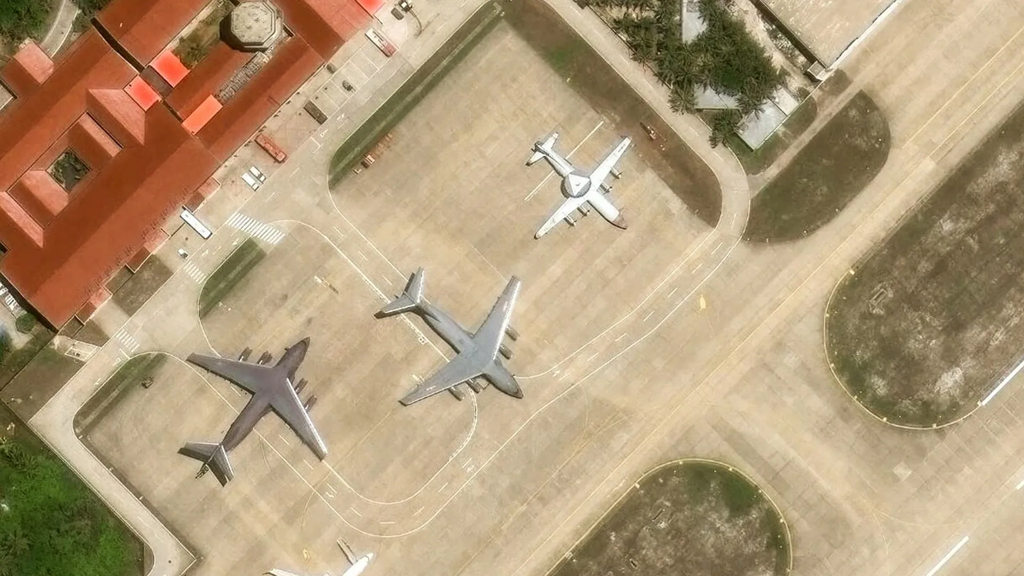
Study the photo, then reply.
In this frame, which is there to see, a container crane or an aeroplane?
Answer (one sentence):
Looking from above, you can make out an aeroplane.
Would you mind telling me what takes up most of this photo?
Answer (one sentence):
The scene is dominated by paved ground.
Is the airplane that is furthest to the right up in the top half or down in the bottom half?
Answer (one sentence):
Seen from above, the airplane that is furthest to the right lies in the top half of the view.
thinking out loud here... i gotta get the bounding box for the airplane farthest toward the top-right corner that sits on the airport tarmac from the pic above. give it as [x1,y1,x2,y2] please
[525,131,630,237]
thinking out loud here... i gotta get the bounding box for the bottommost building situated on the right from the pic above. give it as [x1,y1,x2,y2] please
[735,101,787,149]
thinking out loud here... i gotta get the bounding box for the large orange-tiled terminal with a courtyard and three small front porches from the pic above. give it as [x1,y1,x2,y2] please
[0,26,224,329]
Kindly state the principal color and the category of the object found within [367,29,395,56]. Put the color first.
white bus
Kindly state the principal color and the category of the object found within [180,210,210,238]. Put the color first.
white bus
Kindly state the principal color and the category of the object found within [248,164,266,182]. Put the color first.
white vehicle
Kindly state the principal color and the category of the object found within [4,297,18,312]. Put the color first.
white car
